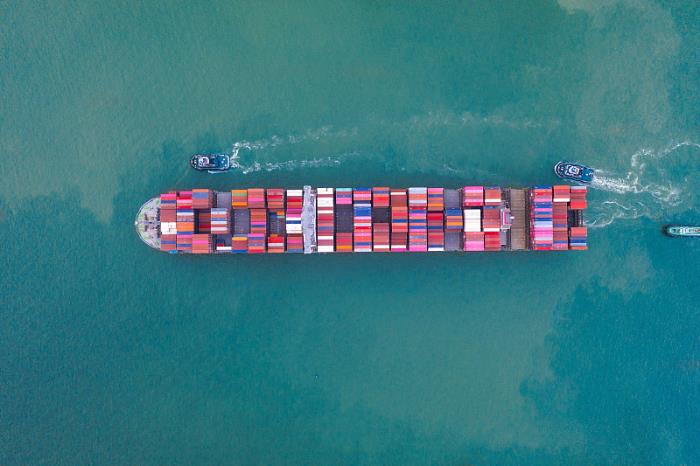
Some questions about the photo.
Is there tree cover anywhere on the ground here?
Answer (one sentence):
No, no tree cover is visible.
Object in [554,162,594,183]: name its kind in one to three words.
boat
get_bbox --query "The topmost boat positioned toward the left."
[192,154,232,172]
